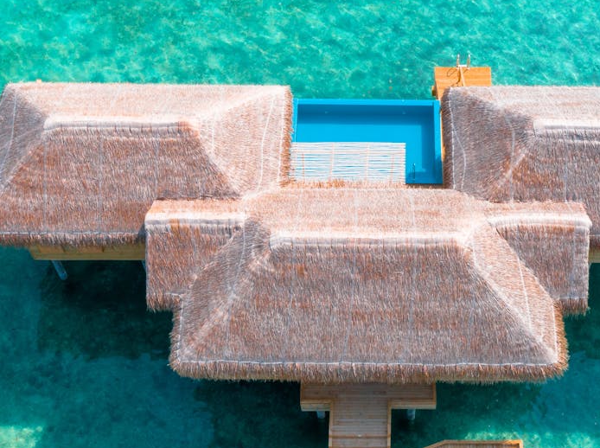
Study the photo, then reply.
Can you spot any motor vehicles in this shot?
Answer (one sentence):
No, the scene contains no motor vehicle.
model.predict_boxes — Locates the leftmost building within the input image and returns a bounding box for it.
[0,82,297,293]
